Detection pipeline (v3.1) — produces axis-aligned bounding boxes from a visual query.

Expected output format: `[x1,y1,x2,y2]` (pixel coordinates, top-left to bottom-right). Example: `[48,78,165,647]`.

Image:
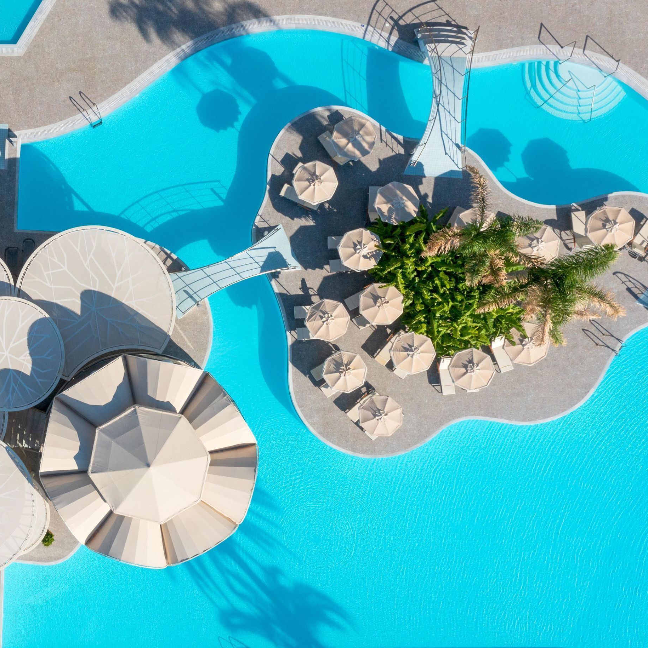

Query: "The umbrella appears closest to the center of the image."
[303,297,349,341]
